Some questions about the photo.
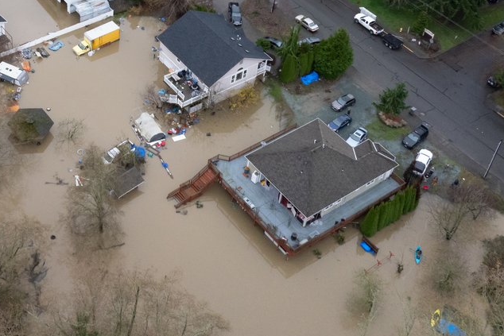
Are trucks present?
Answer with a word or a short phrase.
Yes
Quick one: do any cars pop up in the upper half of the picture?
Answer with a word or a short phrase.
Yes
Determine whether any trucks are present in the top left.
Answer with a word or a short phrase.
Yes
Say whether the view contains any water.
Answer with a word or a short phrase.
Yes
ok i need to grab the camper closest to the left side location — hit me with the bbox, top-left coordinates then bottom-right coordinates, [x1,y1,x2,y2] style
[0,60,28,87]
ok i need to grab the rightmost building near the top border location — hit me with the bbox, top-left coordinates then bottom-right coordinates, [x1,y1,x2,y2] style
[155,11,273,107]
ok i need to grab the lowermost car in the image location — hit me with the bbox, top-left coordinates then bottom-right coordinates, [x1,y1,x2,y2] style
[414,145,436,171]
